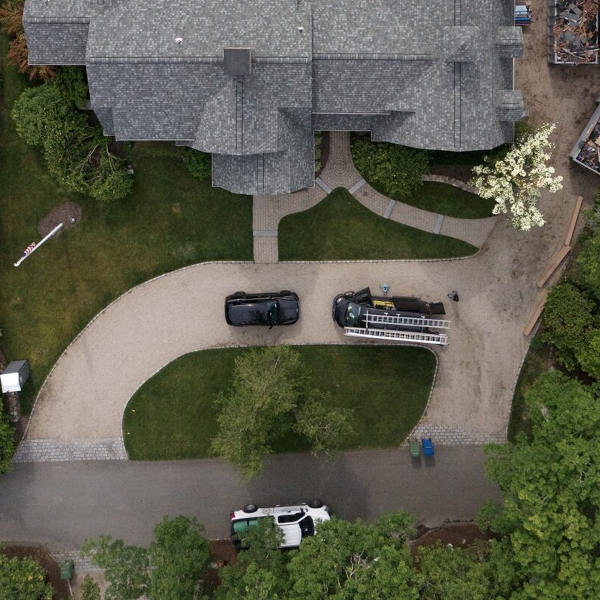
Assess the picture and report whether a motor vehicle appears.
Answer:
Yes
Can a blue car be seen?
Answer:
No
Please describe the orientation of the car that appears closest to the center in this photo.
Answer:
from side to side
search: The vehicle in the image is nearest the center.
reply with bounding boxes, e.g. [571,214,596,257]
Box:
[226,290,300,328]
